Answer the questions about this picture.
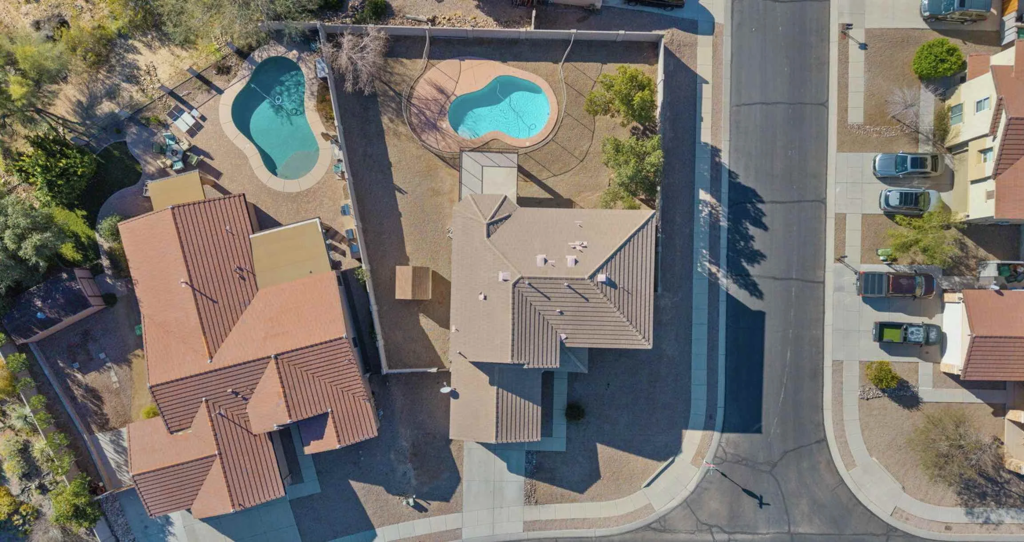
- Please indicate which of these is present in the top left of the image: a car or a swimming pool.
swimming pool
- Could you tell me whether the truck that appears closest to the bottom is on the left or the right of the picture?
right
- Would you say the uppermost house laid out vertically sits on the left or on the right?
right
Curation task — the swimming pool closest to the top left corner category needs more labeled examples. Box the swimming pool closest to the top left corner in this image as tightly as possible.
[220,45,331,191]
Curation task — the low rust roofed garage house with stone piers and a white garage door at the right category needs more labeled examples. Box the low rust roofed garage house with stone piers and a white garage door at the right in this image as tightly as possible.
[940,290,1024,381]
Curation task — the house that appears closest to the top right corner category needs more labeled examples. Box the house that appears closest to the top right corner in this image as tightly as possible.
[944,39,1024,222]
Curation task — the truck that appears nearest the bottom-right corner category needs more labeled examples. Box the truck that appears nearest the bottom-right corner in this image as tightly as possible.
[865,317,942,349]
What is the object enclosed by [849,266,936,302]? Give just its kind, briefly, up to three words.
truck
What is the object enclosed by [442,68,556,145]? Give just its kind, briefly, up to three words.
swimming pool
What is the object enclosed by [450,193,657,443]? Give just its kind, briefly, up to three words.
house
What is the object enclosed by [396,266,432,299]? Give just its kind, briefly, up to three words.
shed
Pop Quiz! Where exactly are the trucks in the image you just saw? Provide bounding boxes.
[849,266,936,302]
[865,317,942,349]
